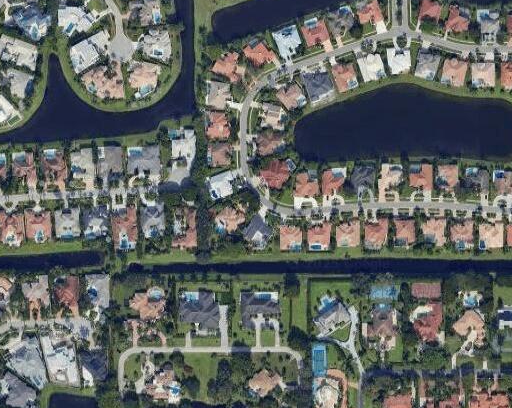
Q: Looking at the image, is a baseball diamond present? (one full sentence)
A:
No, I can see no baseball diamond in this picture.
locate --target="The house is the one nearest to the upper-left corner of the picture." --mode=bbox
[8,0,51,37]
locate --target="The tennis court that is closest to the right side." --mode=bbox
[412,283,442,298]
